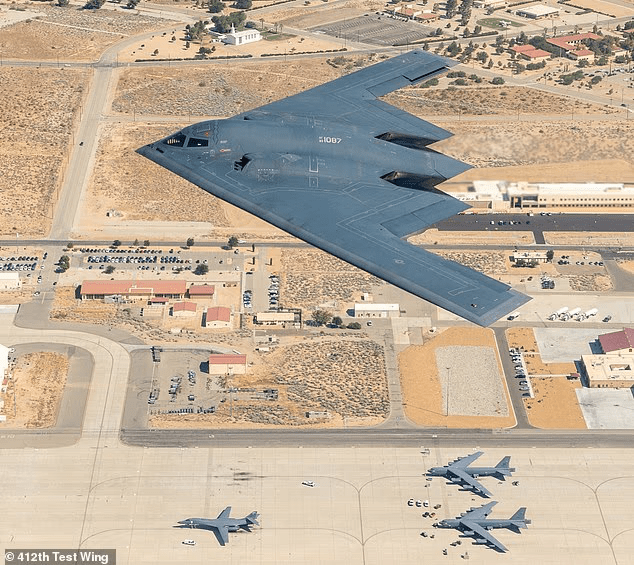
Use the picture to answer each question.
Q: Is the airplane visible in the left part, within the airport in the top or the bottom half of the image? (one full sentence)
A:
The airplane visible in the left part, within the airport is in the bottom half of the image.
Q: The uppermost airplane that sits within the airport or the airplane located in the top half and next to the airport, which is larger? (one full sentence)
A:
The airplane located in the top half and next to the airport covers a greater area than the uppermost airplane that sits within the airport.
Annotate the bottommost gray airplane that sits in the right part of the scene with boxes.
[435,499,529,551]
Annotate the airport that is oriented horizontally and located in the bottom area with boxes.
[0,303,634,565]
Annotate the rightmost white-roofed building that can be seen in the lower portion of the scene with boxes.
[580,353,634,387]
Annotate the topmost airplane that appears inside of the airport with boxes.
[428,449,518,497]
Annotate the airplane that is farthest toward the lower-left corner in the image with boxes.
[178,504,261,544]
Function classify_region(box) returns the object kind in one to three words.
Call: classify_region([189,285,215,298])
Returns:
building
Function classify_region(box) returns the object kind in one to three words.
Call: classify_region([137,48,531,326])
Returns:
airplane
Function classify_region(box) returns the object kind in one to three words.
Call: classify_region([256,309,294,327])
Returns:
building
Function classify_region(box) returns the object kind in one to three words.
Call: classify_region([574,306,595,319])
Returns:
vehicle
